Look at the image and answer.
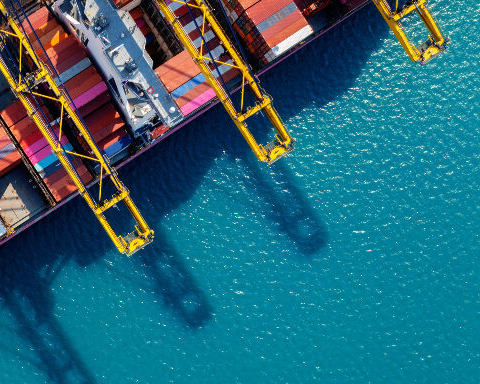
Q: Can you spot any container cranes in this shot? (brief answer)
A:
Yes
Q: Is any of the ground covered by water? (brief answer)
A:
Yes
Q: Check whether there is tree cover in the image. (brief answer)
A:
No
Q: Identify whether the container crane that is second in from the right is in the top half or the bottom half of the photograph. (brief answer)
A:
top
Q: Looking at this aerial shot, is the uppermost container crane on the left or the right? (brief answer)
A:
right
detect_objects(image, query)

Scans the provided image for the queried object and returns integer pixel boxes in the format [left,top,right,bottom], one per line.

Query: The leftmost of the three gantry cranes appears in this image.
[0,0,155,256]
